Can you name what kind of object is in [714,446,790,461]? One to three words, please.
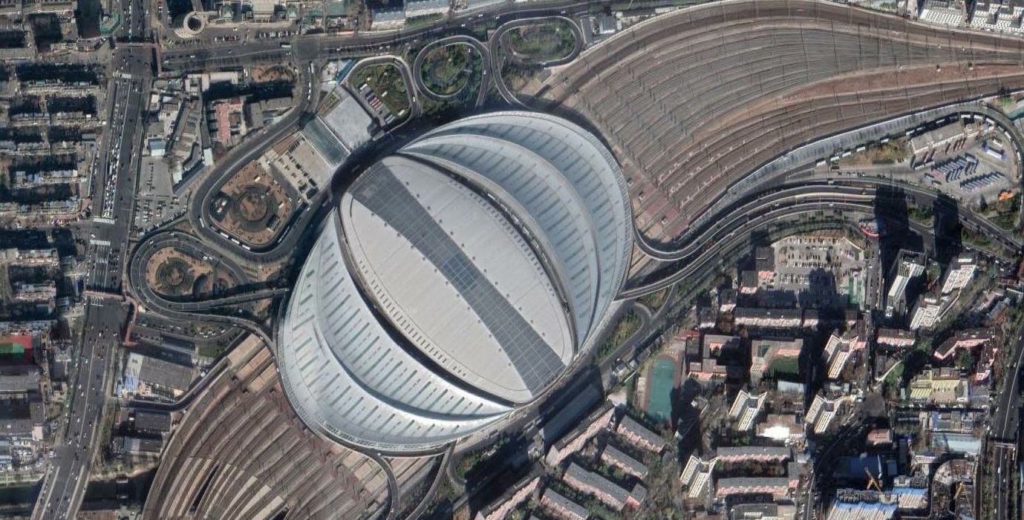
building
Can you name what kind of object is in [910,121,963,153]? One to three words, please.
building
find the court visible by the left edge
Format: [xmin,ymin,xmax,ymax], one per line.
[0,335,33,362]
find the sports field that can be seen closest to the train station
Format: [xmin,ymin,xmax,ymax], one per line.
[639,352,680,432]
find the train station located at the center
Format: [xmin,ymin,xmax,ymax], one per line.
[278,110,632,452]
